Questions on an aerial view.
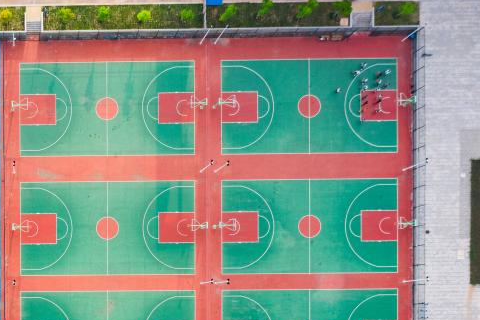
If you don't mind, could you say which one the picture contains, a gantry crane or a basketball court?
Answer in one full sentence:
The one in the frame is a basketball court.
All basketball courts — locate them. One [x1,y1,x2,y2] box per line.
[221,289,398,320]
[20,179,196,276]
[221,58,398,154]
[20,290,196,320]
[20,60,195,157]
[221,178,398,274]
